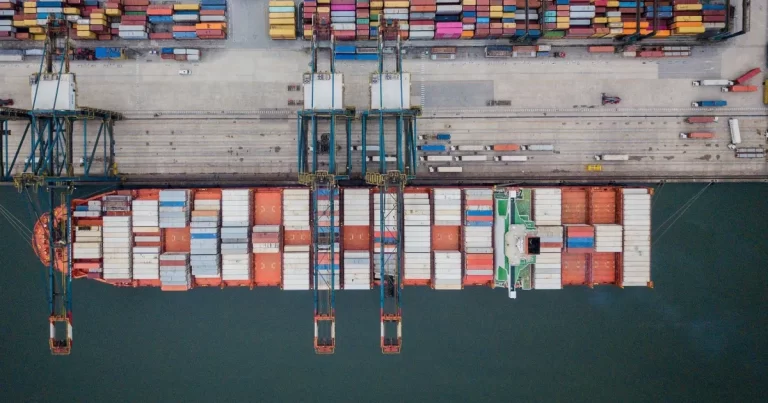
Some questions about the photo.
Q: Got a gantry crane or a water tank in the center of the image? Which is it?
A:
gantry crane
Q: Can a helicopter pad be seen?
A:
No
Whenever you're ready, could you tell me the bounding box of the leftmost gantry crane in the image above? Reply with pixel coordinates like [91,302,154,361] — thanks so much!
[0,104,57,180]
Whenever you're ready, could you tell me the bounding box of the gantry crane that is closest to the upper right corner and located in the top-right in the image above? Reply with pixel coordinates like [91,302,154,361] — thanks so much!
[700,0,751,45]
